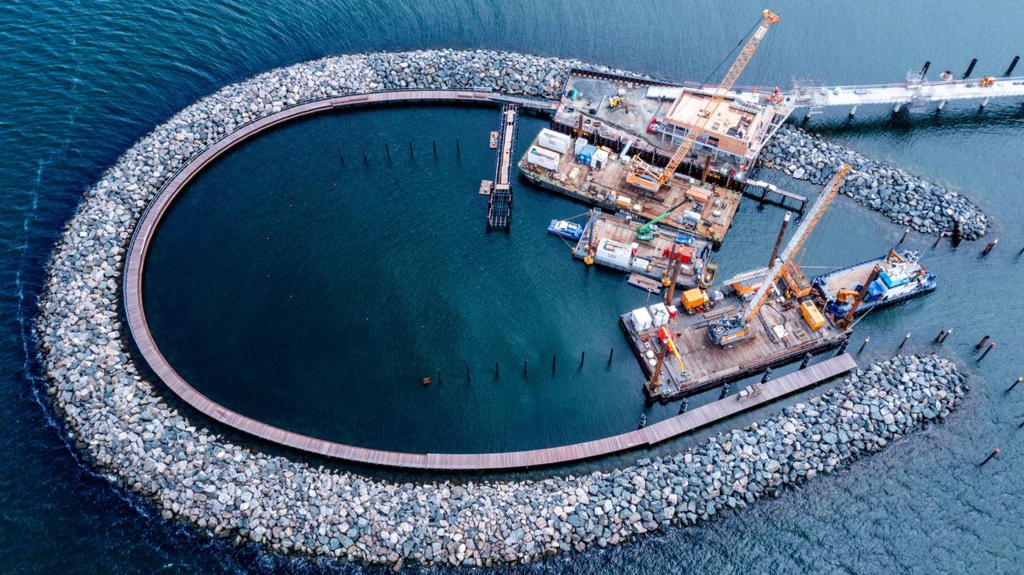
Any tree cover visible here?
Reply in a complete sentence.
No, the scene doesn't show any tree cover.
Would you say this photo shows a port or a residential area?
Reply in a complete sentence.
The area seen from above is a port.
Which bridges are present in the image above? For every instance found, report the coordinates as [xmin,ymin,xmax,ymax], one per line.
[797,71,1024,120]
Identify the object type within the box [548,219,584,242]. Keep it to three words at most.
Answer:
boat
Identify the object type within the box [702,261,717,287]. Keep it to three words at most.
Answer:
boat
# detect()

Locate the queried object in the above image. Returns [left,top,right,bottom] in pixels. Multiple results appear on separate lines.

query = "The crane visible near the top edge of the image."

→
[626,7,780,201]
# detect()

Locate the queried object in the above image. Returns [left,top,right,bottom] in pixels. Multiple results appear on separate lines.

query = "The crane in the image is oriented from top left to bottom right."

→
[652,322,686,377]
